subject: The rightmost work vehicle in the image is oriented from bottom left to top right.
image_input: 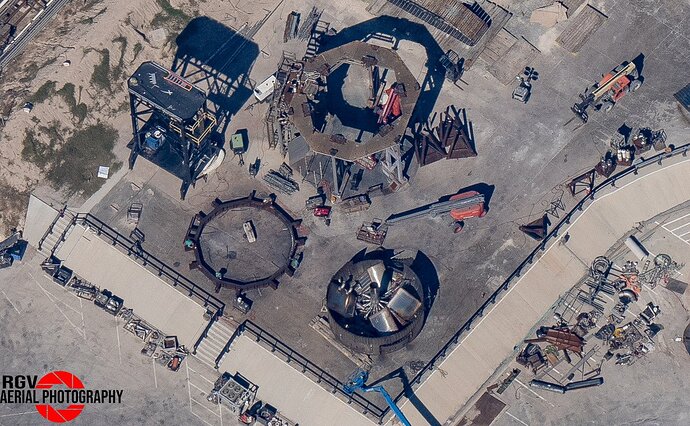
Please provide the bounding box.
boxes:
[571,61,644,125]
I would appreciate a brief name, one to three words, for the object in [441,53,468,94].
work vehicle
